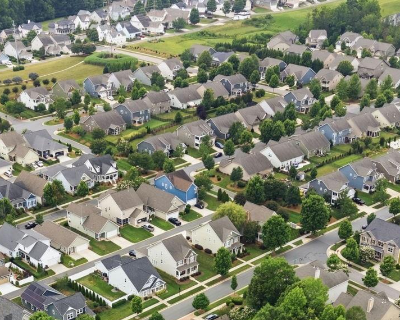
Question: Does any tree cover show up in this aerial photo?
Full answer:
Yes, there's tree cover in this view.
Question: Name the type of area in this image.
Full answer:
This image shows a residential area.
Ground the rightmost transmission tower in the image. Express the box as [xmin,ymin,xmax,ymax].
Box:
[104,4,118,57]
